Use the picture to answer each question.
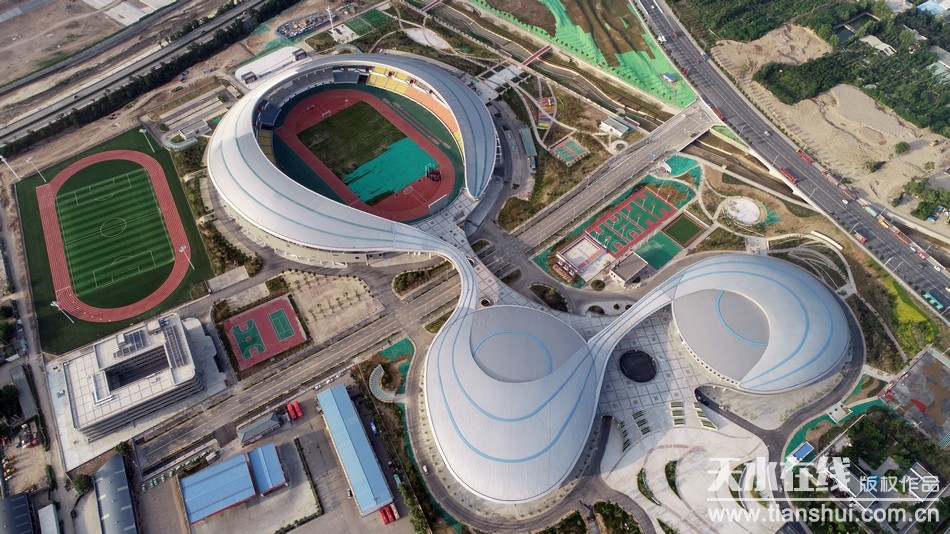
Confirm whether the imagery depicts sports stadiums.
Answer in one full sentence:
Yes, there is a sports stadium in the image.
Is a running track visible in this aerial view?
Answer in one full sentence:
Yes, a running track is visible in the scene.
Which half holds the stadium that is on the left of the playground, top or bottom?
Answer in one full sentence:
The top half of the photo is where the stadium that is on the left of the playground is.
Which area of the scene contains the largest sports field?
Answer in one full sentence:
Look in the left portion of the view to spot the largest sports field.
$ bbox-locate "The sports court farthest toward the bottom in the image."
[216,292,307,368]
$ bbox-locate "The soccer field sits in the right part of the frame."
[662,208,710,248]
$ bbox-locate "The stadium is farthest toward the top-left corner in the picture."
[207,52,500,310]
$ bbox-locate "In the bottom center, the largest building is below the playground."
[424,304,621,504]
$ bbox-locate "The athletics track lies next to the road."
[271,83,464,225]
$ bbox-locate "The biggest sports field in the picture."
[14,130,215,354]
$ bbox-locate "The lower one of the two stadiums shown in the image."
[620,252,852,395]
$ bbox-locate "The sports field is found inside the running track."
[299,100,406,206]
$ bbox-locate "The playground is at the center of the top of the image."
[537,97,556,129]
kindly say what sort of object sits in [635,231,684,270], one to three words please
tennis court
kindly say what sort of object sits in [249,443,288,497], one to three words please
shed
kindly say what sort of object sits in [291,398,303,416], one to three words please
vehicle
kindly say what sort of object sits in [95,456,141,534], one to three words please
building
